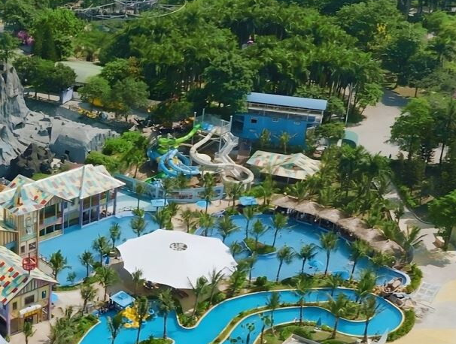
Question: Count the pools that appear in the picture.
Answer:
2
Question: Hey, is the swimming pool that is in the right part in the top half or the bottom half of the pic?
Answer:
bottom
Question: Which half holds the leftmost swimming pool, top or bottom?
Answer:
bottom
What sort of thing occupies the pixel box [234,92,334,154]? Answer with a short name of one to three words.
shed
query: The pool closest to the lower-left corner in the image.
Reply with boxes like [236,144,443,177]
[38,213,157,286]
